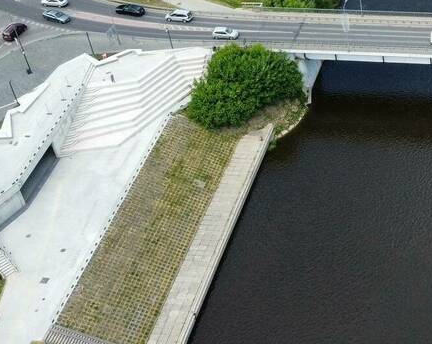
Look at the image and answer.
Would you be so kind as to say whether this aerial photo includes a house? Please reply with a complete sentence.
No, no house is visible in the view.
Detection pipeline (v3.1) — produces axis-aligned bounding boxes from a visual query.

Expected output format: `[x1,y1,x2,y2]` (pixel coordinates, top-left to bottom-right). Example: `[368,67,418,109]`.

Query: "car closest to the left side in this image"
[0,25,27,41]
